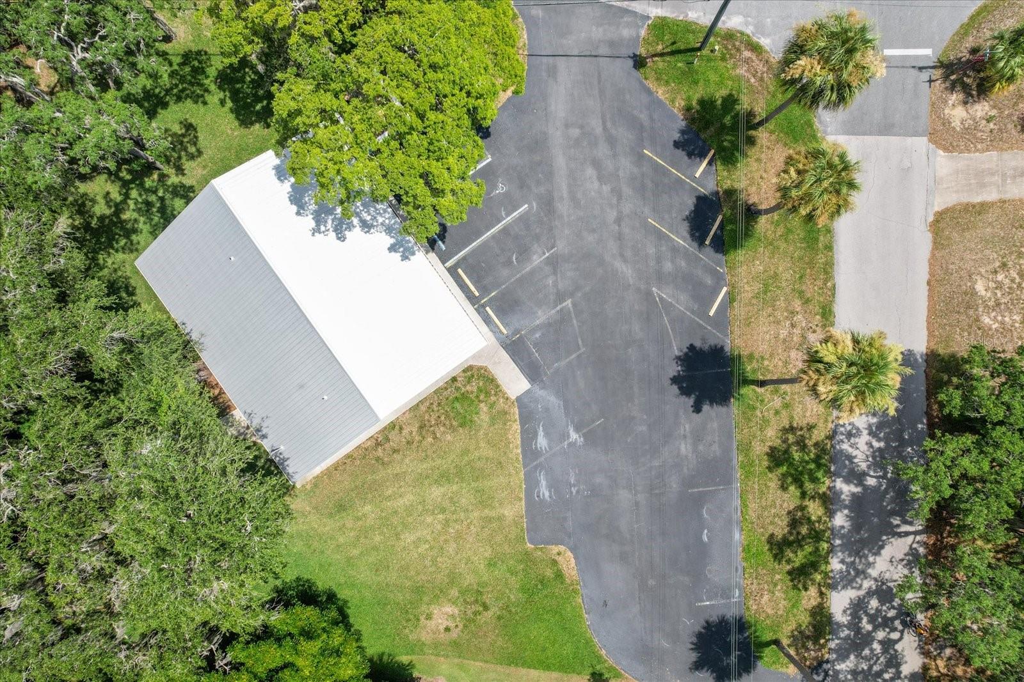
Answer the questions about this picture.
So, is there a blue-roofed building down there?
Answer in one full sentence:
No, there appears to be no blue-roofed building in this shot.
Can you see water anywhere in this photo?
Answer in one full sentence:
No, there is no water in the image.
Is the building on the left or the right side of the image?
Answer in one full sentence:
The building is on the left side of the image.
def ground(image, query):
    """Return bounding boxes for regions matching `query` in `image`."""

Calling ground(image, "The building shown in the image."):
[128,121,487,486]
